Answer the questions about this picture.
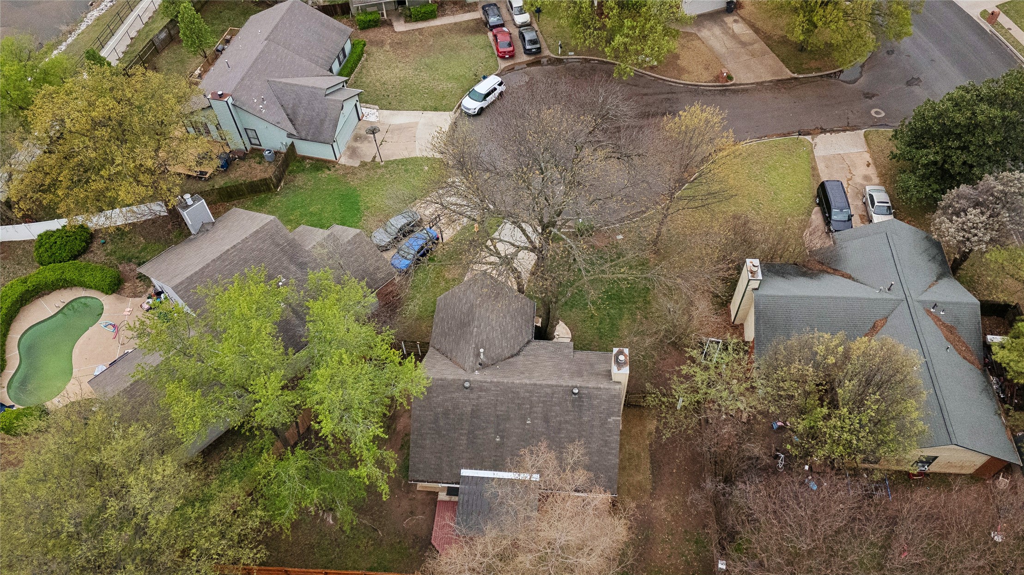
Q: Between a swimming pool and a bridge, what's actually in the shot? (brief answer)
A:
swimming pool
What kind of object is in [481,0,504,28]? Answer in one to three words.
car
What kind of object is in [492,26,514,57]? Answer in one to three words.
car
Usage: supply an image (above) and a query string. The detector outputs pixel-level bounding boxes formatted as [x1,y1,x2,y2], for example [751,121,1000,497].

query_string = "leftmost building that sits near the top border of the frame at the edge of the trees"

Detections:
[184,0,364,161]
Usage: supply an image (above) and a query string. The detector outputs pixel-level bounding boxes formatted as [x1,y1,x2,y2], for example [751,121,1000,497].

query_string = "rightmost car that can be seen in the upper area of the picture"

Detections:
[863,185,898,223]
